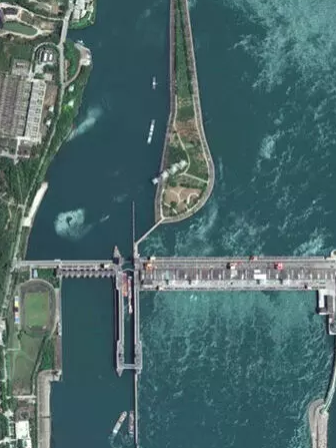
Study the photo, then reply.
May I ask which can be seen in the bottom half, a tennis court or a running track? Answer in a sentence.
There is a running track in the bottom half.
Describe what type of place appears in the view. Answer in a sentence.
What you see here is a port.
